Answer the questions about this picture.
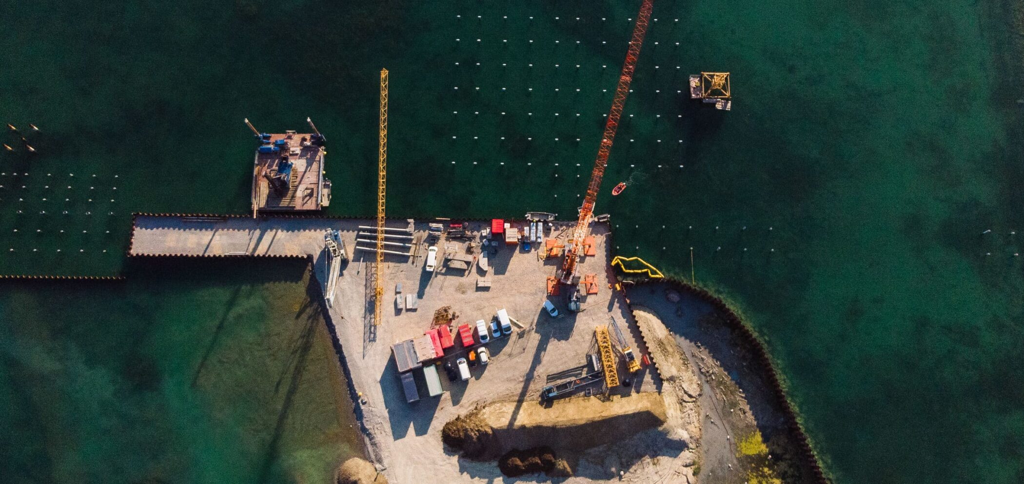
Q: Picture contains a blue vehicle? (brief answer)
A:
Yes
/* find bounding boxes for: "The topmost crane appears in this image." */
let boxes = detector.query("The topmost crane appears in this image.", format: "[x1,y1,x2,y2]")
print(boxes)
[550,0,657,312]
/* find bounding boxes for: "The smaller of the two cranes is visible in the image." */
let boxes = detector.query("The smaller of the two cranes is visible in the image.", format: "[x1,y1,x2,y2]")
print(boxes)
[605,316,641,373]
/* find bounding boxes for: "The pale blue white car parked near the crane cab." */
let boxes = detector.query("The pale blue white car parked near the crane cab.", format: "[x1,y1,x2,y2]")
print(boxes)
[542,299,559,318]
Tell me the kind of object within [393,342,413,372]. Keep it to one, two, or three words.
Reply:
building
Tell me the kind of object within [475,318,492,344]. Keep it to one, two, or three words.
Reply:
vehicle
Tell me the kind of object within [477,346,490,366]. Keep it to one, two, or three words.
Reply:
vehicle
